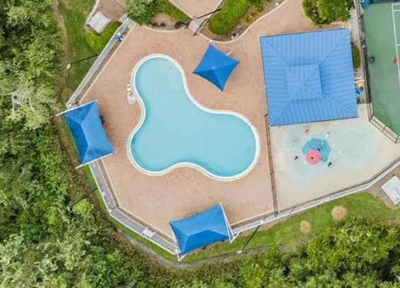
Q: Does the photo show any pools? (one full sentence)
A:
Yes, the photo shows a pool.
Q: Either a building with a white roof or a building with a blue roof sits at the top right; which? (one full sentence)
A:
Looking at the top right, you will find a building with a blue roof.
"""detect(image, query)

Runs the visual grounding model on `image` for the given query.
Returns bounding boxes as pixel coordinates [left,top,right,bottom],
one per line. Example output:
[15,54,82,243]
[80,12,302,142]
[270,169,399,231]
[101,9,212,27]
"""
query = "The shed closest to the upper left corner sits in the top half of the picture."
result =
[89,11,116,32]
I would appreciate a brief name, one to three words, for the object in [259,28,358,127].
building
